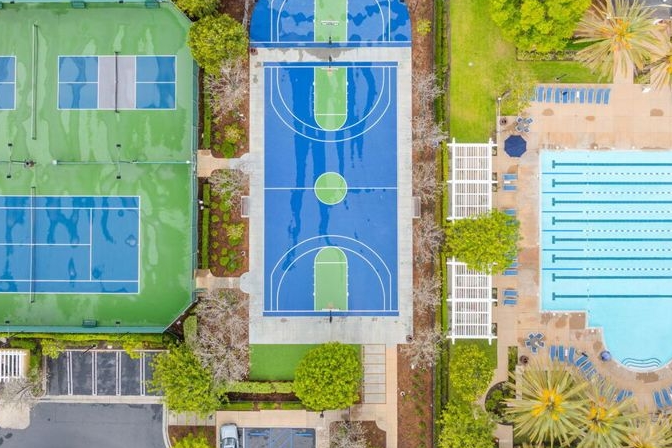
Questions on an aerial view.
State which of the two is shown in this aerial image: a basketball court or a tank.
basketball court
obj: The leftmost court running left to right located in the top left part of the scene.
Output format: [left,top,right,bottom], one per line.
[58,56,176,109]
